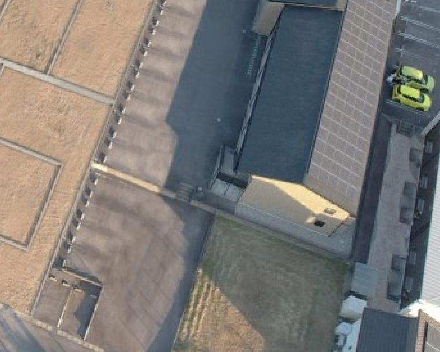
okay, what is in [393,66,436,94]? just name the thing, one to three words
car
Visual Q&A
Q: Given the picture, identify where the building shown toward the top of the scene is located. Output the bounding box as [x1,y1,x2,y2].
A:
[211,0,410,229]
